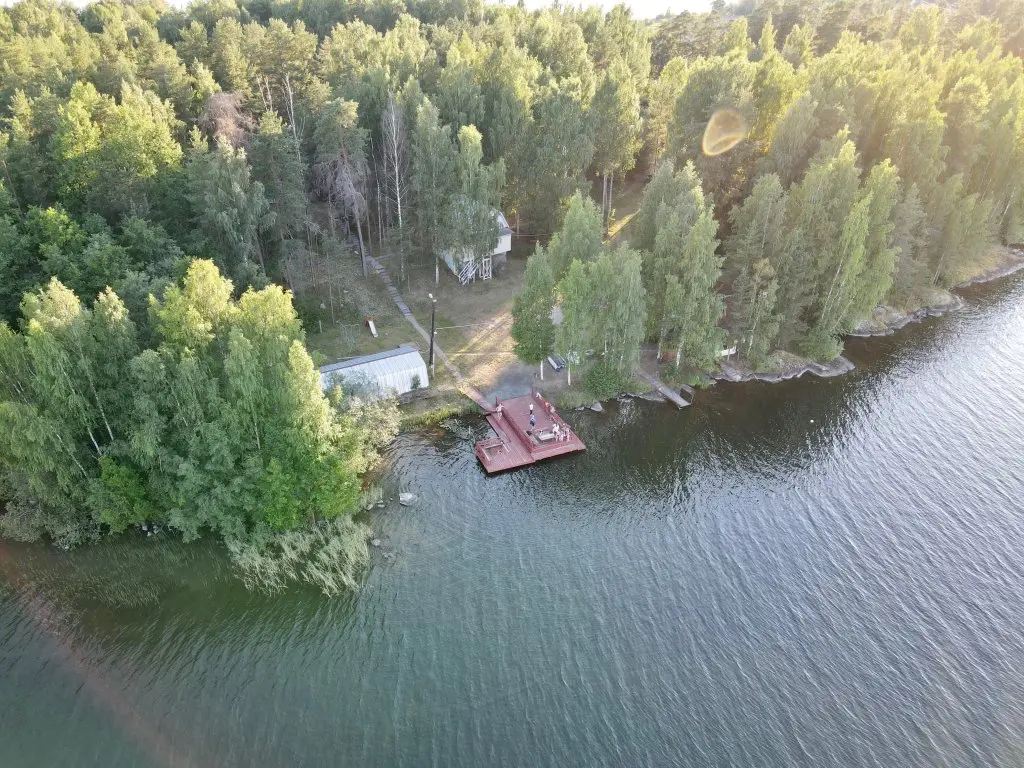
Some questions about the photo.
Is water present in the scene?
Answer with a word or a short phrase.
Yes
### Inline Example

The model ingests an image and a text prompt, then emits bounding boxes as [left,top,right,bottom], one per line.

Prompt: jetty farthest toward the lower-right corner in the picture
[634,368,690,410]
